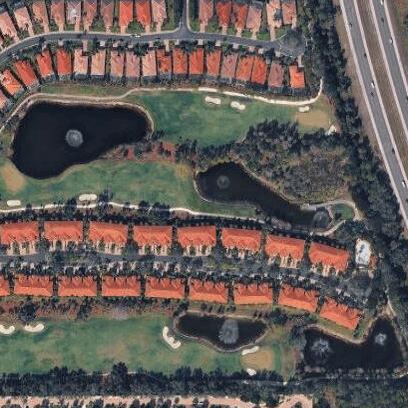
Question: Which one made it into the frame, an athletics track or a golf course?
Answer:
golf course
